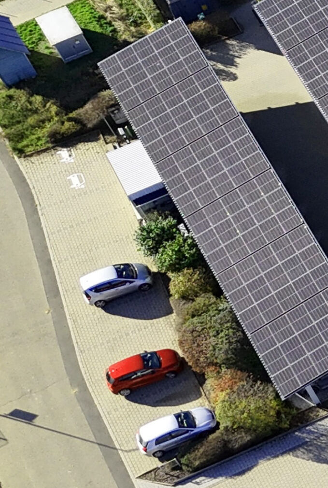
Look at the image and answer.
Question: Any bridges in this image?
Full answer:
No, the picture doesn't show any bridge.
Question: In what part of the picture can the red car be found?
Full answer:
The red car is in the bottom part of the image.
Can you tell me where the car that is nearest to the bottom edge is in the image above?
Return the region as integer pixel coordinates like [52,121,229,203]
[135,407,215,456]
